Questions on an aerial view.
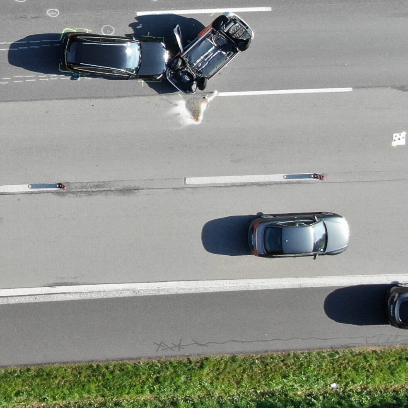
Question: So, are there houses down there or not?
No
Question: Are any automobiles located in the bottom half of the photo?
Yes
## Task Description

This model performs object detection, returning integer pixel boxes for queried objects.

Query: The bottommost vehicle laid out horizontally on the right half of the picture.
[244,212,351,262]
